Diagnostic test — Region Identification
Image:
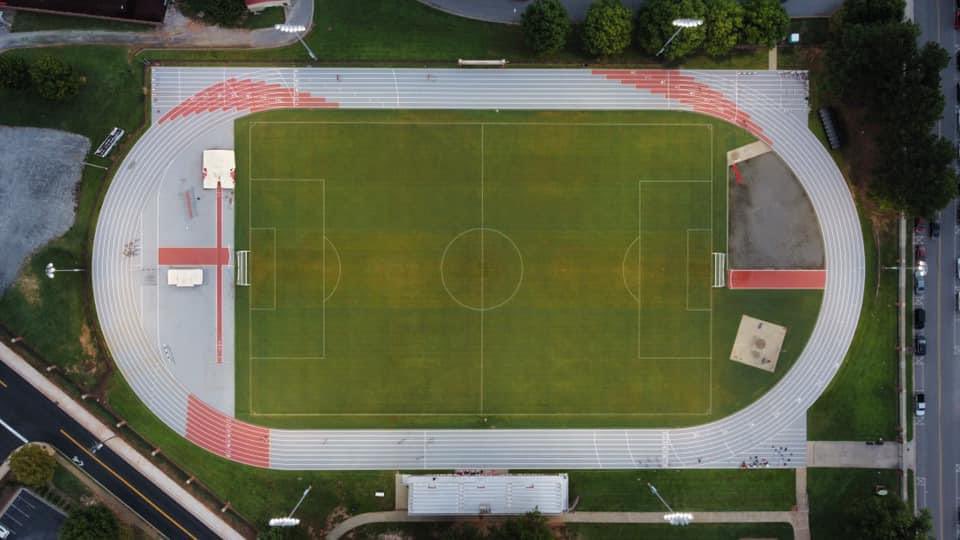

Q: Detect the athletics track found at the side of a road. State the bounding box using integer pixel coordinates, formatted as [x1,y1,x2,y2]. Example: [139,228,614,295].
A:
[94,67,868,472]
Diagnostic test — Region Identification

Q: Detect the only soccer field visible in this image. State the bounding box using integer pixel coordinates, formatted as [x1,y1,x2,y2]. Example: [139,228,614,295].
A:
[235,110,826,428]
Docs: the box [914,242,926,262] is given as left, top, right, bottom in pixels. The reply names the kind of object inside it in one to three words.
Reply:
vehicle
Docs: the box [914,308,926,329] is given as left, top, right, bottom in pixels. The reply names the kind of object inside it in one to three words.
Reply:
vehicle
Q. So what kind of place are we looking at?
sports ground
